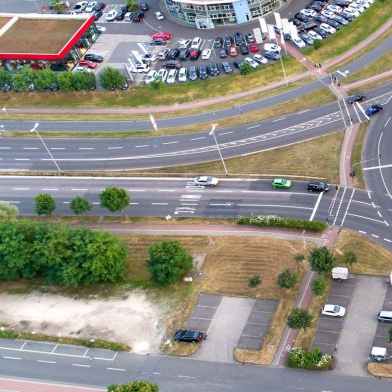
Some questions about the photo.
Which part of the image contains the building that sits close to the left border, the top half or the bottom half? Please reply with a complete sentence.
You can find the building that sits close to the left border in the top half.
